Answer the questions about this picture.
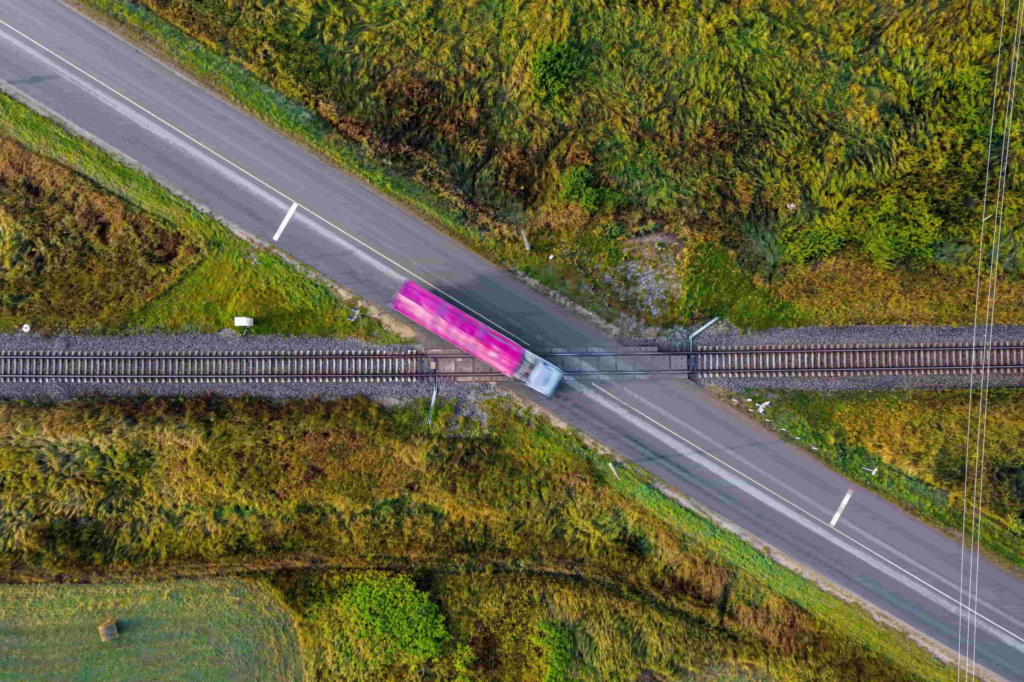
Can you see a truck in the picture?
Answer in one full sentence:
Yes, there is a truck in the image.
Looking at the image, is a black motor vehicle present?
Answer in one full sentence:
No, no black motor vehicle is visible in the view.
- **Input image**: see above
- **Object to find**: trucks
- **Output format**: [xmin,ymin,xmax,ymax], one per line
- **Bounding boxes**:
[391,278,563,400]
